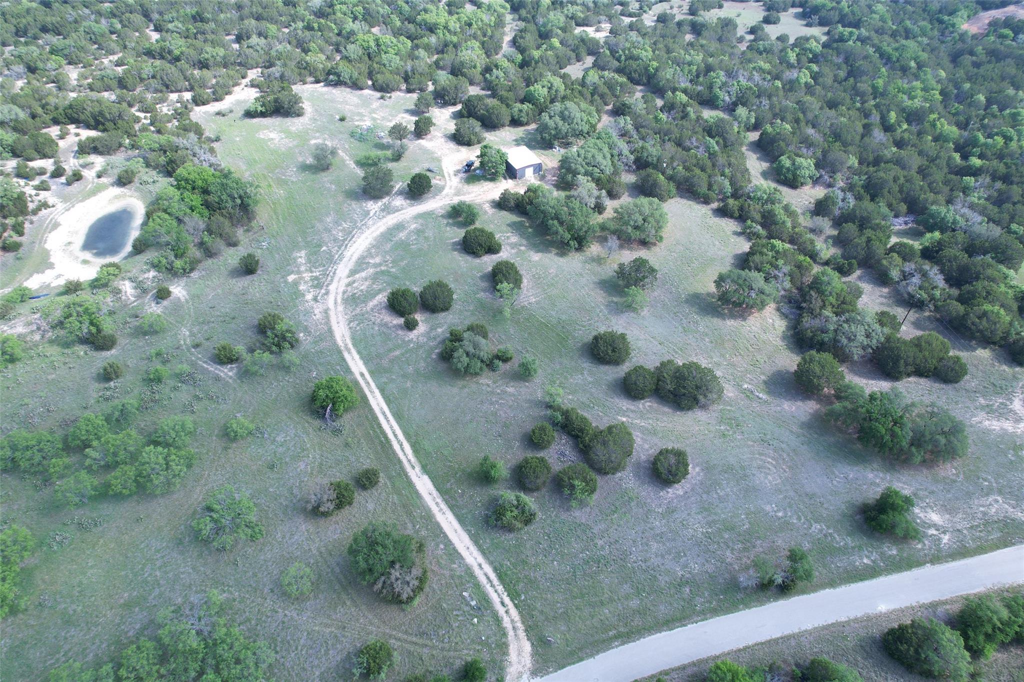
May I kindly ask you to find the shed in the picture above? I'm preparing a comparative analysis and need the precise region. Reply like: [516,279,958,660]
[501,146,542,178]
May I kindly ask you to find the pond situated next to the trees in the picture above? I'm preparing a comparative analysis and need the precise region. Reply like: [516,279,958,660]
[81,208,135,258]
